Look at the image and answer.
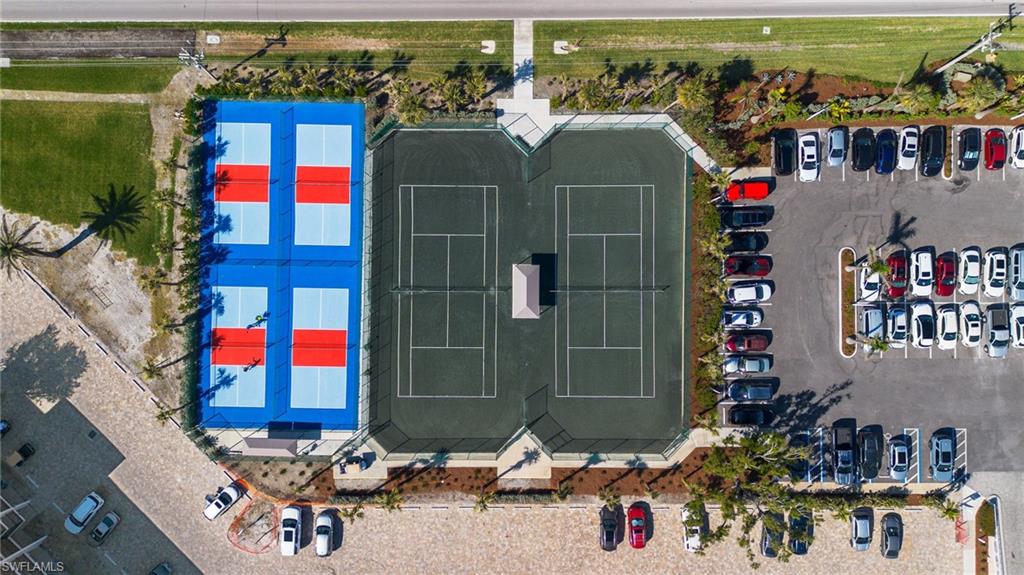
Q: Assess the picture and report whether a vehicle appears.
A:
Yes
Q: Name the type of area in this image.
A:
sports ground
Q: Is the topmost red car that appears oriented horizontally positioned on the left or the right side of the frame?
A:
right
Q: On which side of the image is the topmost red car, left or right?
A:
right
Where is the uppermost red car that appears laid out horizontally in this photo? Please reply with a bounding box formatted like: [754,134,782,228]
[724,180,770,201]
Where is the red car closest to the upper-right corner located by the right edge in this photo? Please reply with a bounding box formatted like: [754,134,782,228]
[981,129,1006,171]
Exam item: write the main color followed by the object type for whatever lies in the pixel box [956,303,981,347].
white car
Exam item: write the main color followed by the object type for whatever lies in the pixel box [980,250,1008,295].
white car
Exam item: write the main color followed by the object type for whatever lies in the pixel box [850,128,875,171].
black car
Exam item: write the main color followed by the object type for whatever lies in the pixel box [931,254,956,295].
red car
